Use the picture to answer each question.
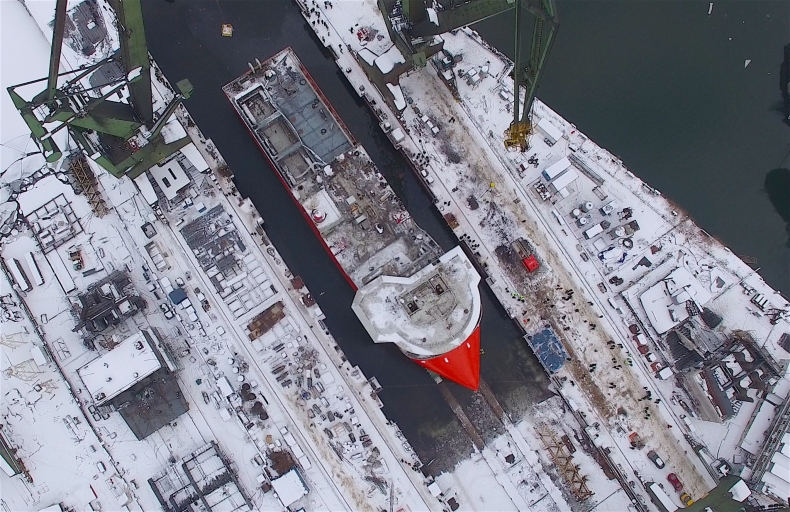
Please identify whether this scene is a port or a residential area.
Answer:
port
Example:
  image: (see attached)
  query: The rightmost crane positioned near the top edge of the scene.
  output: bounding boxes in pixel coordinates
[357,0,559,157]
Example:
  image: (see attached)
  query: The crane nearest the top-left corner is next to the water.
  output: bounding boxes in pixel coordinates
[5,0,196,178]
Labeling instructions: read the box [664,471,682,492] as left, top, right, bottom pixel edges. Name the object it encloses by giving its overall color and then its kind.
red car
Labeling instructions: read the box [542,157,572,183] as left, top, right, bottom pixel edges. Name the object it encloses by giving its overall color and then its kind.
white shipping container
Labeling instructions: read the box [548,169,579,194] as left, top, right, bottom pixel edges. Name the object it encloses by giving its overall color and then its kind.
white shipping container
